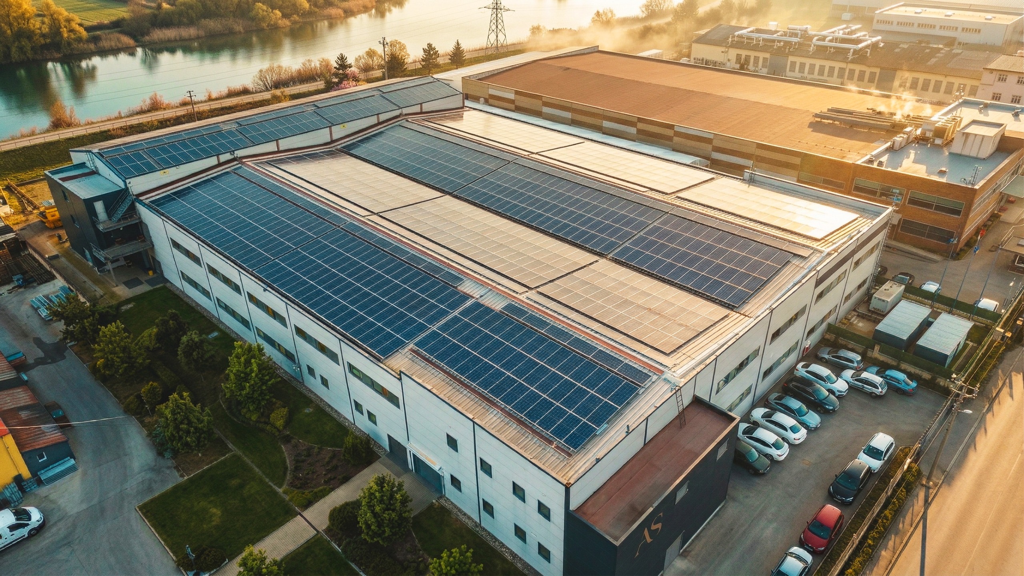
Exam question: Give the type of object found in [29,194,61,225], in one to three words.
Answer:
truck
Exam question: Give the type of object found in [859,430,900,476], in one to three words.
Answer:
car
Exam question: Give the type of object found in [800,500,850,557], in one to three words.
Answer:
car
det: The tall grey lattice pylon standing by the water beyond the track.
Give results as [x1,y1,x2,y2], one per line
[485,0,509,56]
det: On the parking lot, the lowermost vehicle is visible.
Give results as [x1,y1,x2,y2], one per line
[770,546,821,576]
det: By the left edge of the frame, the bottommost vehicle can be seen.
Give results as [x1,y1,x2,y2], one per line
[0,510,52,551]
